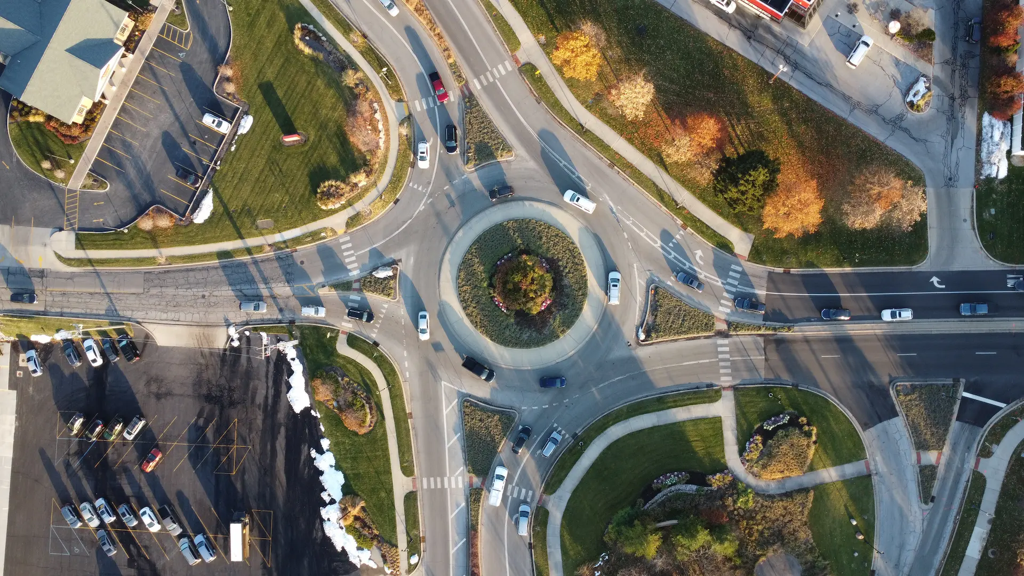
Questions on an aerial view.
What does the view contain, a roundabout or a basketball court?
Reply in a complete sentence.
Looking from above, you can make out a roundabout.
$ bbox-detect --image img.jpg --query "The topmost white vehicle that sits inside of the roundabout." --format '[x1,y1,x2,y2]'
[562,191,597,214]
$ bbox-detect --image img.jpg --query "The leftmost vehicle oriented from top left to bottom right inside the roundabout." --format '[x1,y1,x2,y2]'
[460,355,497,383]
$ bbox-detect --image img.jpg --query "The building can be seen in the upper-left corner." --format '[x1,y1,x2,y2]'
[0,0,134,124]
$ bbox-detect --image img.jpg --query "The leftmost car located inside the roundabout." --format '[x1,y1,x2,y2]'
[416,311,431,340]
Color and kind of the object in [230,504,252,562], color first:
white truck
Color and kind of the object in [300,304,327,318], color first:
white car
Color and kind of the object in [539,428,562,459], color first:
blue car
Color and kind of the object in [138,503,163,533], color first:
white car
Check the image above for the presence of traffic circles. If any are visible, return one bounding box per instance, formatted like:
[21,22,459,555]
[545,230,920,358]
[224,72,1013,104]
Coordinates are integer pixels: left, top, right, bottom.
[404,166,641,402]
